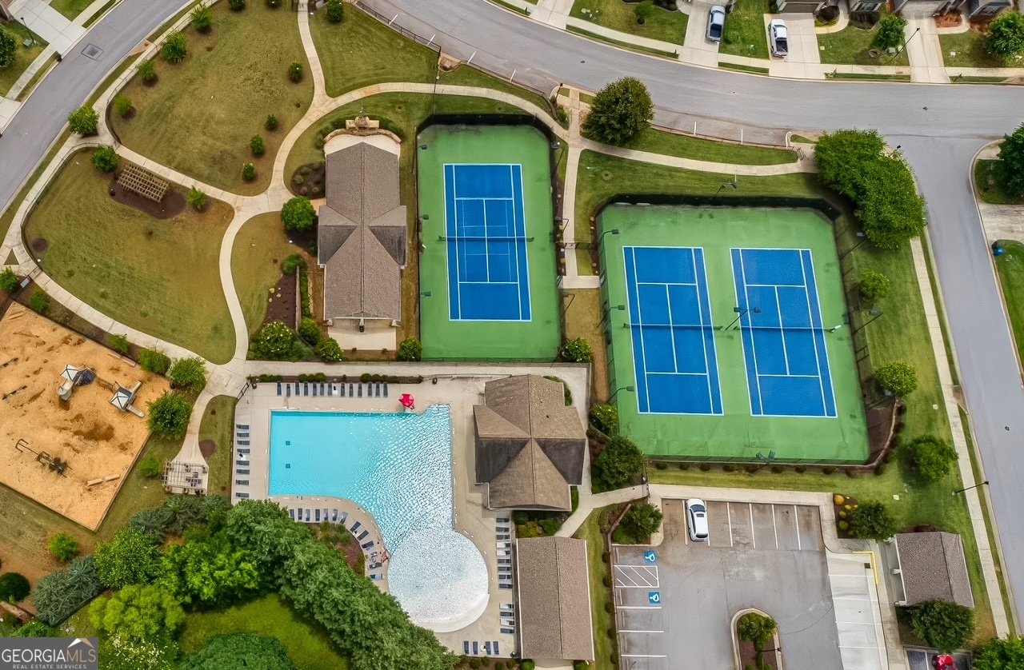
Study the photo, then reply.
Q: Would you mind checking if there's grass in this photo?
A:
Yes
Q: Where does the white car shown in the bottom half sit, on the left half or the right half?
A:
right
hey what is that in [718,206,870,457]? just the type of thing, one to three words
tennis court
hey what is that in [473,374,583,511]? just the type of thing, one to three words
building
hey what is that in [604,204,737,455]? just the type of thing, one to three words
tennis court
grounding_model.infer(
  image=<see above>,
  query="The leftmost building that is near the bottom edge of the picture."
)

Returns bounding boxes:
[515,536,596,662]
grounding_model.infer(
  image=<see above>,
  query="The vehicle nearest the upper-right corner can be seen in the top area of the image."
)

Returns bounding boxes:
[769,22,788,57]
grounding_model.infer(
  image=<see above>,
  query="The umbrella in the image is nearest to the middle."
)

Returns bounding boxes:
[400,394,414,407]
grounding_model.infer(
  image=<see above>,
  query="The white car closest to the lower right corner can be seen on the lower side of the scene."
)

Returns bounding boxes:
[684,500,710,543]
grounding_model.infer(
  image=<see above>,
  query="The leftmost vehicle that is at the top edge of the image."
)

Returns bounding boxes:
[707,7,726,42]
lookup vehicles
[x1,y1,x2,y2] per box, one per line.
[684,500,710,543]
[930,652,954,670]
[707,7,726,42]
[769,22,788,57]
